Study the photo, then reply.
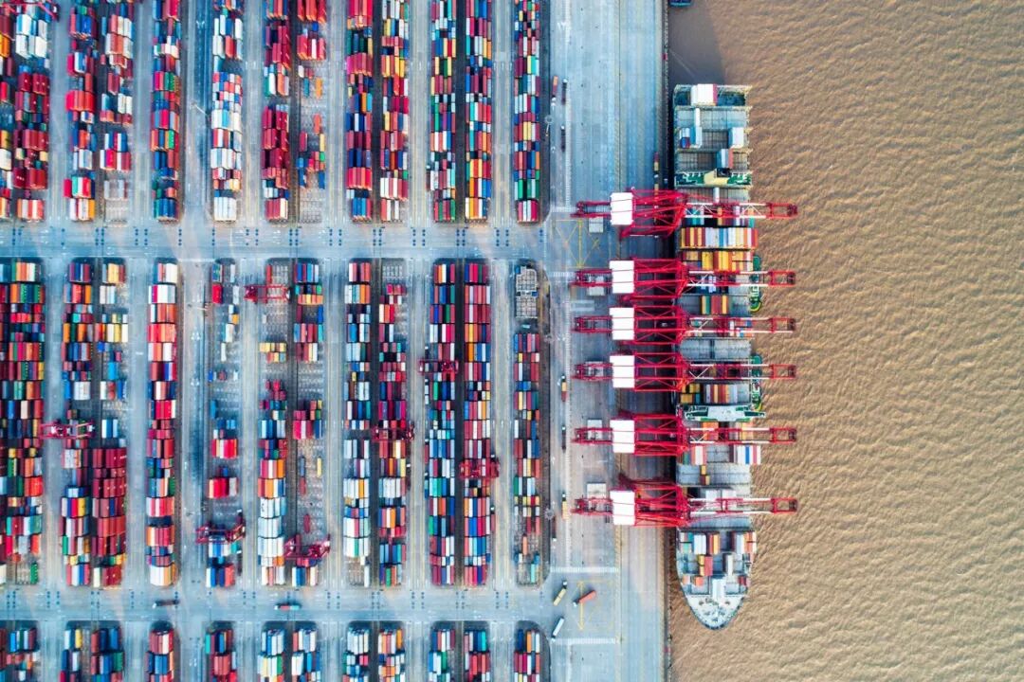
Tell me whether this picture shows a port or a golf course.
port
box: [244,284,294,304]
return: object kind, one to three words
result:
container crane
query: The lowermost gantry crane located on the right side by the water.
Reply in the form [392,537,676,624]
[569,475,797,526]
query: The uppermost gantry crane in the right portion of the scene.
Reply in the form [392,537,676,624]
[568,190,794,242]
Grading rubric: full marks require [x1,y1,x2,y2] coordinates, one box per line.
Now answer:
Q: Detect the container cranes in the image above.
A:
[418,359,461,378]
[568,190,794,242]
[244,284,294,304]
[569,475,797,526]
[285,536,332,560]
[197,518,248,541]
[372,421,417,441]
[569,305,795,349]
[568,258,795,305]
[569,409,796,454]
[459,454,501,475]
[569,350,796,393]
